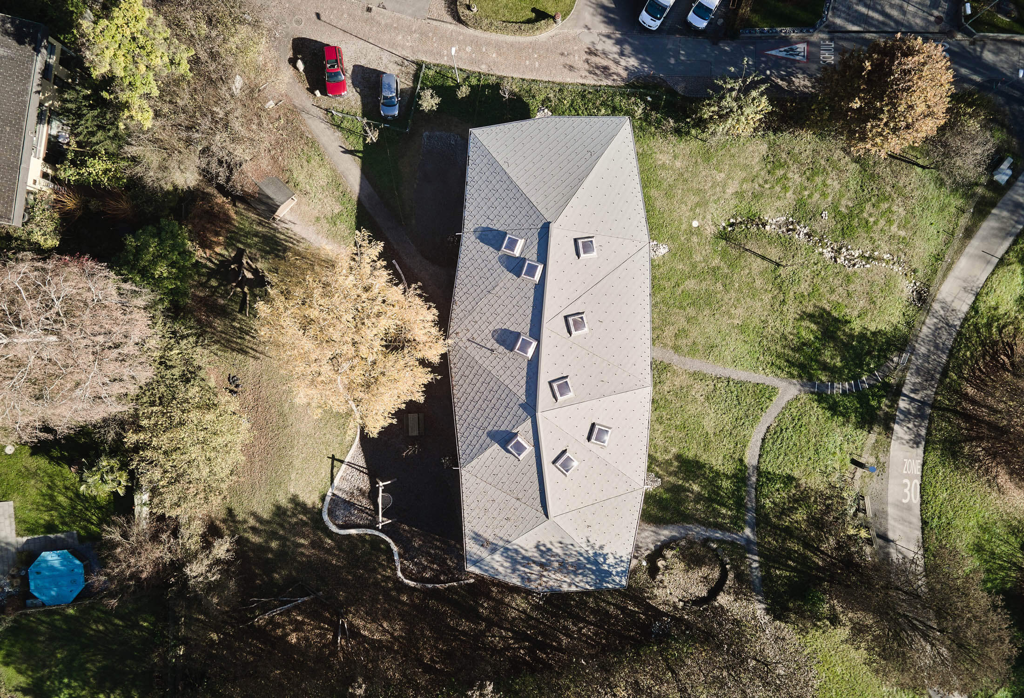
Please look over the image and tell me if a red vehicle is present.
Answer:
Yes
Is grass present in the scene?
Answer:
Yes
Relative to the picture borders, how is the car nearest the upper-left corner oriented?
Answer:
vertically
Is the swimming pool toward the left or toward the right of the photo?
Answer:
left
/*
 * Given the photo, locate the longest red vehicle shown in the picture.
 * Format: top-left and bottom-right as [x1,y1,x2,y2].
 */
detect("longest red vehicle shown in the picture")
[323,42,348,97]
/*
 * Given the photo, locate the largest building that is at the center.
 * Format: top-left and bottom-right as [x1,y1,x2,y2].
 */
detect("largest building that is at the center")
[446,114,656,600]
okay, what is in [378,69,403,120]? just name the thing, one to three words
car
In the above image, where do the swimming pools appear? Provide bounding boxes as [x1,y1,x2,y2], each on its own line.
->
[29,547,91,606]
